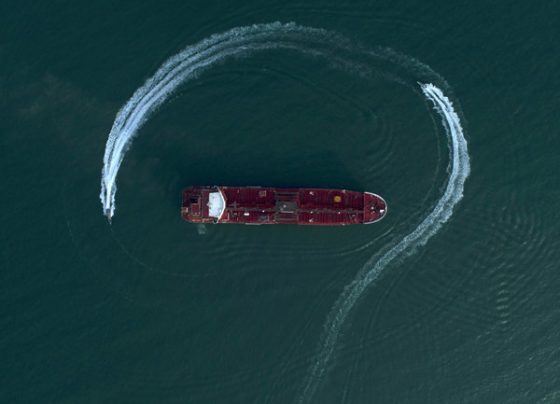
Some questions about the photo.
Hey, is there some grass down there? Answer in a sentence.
No, there's no grass in this view.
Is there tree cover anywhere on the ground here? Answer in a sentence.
No, there's no tree cover in this view.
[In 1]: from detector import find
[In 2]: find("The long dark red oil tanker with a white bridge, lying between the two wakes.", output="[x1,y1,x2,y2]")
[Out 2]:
[182,186,388,225]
